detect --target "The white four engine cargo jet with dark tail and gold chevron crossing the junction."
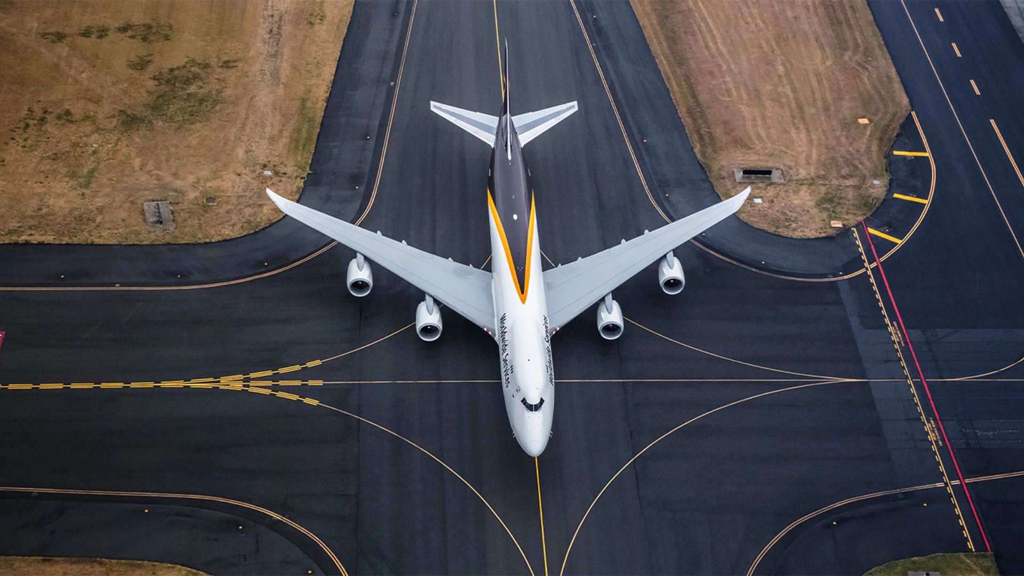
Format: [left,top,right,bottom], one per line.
[266,38,752,461]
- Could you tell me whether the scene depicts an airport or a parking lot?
airport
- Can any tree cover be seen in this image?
No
